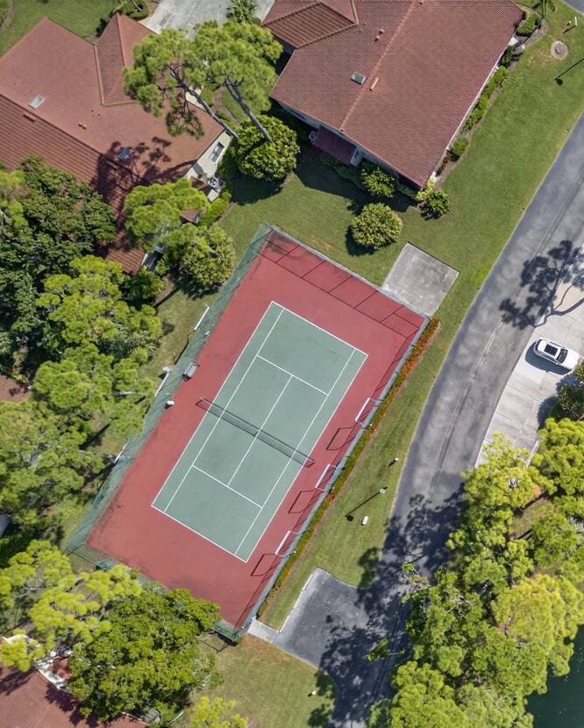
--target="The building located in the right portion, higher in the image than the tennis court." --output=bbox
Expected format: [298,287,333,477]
[262,0,525,190]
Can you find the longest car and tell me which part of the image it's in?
right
